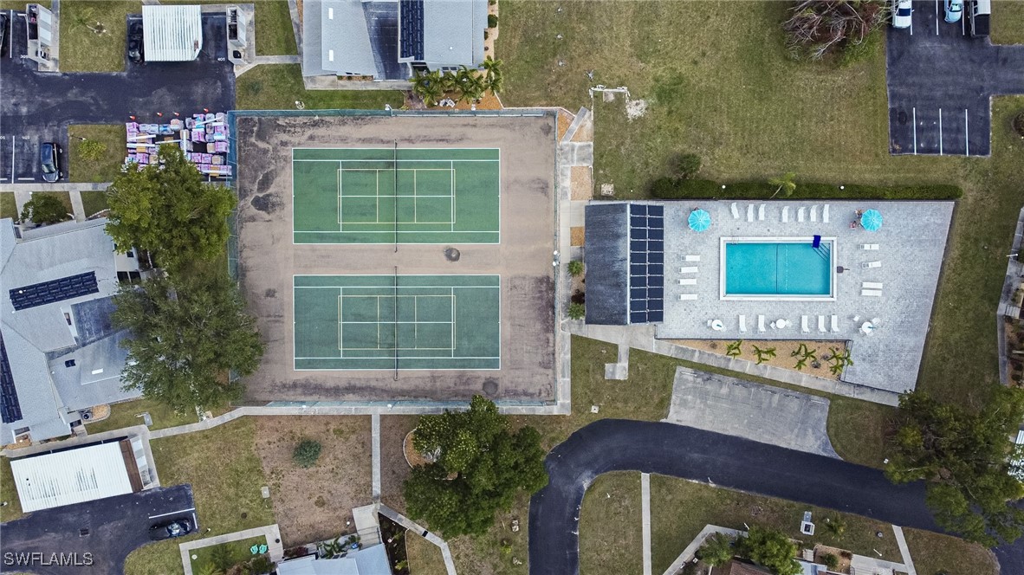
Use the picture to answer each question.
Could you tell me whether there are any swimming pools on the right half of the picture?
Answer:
Yes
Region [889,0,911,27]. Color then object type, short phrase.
white car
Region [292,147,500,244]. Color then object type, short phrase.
green tennis court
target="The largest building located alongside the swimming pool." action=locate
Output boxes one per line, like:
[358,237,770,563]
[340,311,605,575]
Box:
[585,202,664,326]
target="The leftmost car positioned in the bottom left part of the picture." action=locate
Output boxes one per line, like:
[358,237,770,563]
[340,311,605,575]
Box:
[149,518,198,541]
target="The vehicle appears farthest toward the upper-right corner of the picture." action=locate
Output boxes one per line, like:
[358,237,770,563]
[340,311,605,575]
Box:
[968,0,992,35]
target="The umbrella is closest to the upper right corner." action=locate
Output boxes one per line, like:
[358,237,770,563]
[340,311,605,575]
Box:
[858,210,880,232]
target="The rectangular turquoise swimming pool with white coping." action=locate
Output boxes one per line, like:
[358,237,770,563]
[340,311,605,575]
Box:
[721,237,838,301]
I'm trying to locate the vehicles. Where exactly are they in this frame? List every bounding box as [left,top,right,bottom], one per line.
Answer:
[889,0,911,27]
[940,0,962,20]
[126,20,145,63]
[36,142,60,181]
[149,518,198,541]
[968,0,992,35]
